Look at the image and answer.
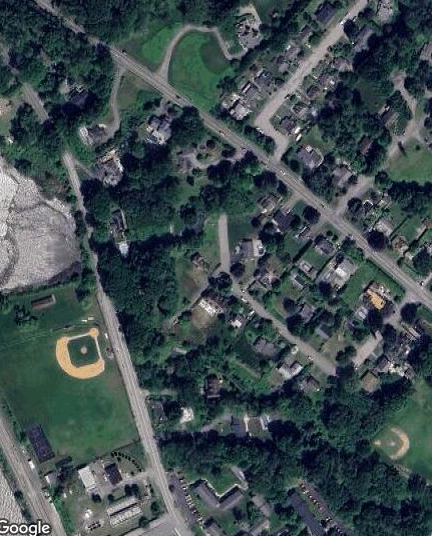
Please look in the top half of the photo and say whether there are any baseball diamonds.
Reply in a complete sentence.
No, the scene shows no baseball diamond in the top half of the photo.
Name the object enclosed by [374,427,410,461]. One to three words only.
baseball field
